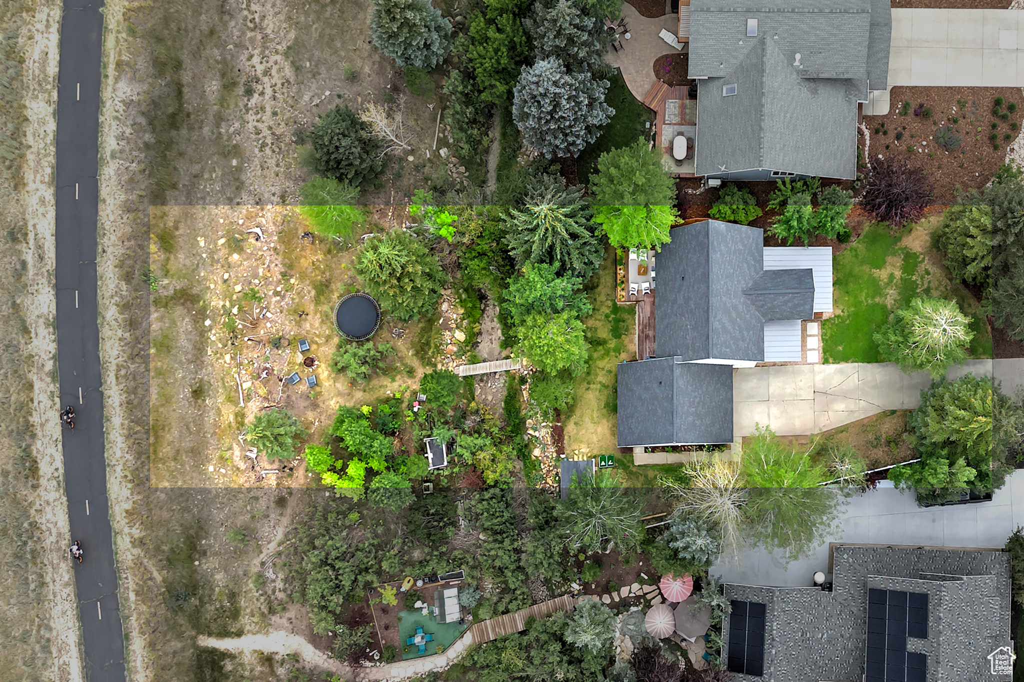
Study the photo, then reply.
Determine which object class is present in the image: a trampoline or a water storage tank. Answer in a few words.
trampoline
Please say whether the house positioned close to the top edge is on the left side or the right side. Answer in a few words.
right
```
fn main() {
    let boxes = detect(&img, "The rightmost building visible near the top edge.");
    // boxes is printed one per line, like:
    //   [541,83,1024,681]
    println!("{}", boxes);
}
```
[687,0,893,183]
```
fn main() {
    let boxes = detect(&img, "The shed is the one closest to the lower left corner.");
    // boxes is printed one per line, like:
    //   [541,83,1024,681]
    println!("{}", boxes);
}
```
[429,590,462,628]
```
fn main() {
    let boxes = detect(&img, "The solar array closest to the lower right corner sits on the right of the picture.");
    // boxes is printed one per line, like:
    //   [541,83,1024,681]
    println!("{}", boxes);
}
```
[867,589,928,682]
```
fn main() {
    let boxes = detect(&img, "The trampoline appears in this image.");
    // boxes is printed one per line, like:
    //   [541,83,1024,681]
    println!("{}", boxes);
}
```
[333,293,381,341]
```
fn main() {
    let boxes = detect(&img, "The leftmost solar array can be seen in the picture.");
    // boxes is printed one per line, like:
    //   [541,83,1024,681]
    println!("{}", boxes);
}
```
[730,601,765,676]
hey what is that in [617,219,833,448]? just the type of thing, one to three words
house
